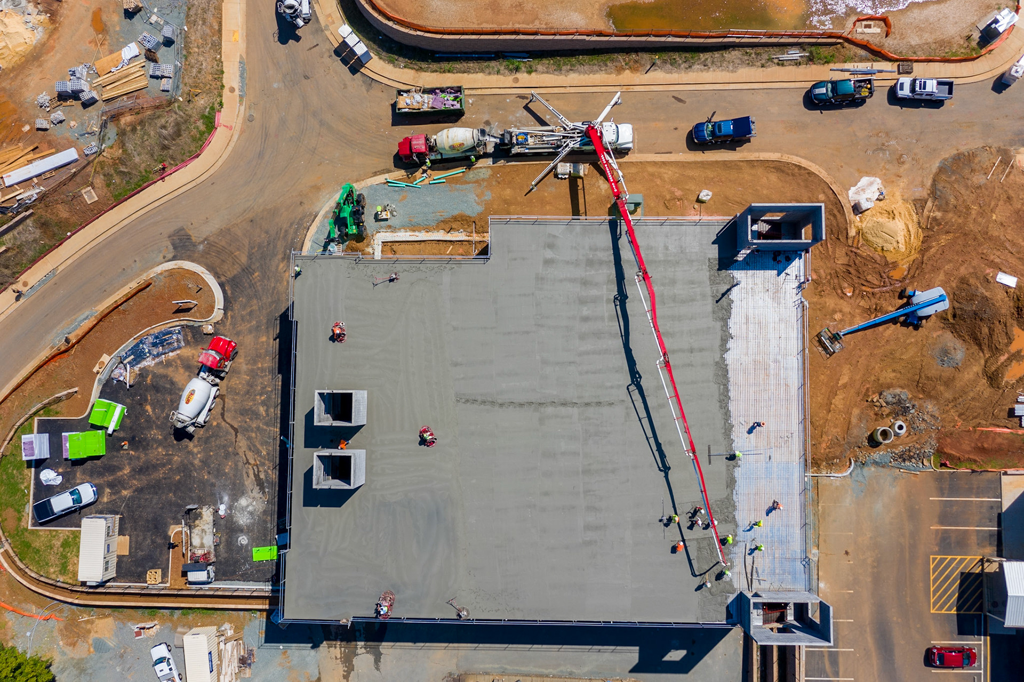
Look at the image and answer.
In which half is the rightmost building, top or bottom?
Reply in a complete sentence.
The bottom half of the photo is where the rightmost building is.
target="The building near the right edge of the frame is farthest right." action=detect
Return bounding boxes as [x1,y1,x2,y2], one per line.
[987,558,1024,628]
